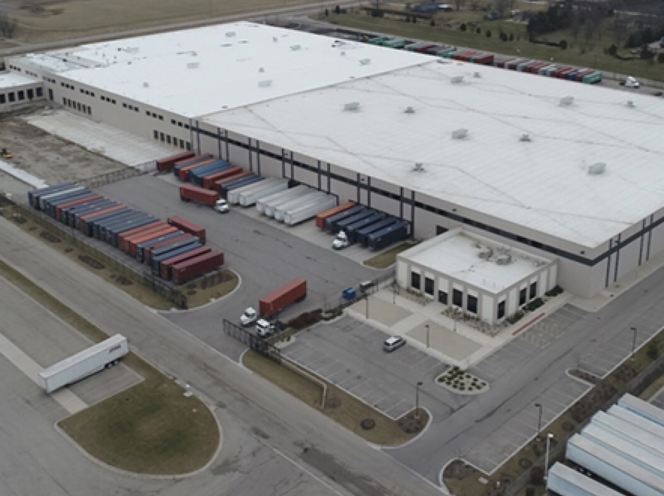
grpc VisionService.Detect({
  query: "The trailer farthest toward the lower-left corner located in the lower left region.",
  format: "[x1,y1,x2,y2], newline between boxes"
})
[36,335,132,391]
